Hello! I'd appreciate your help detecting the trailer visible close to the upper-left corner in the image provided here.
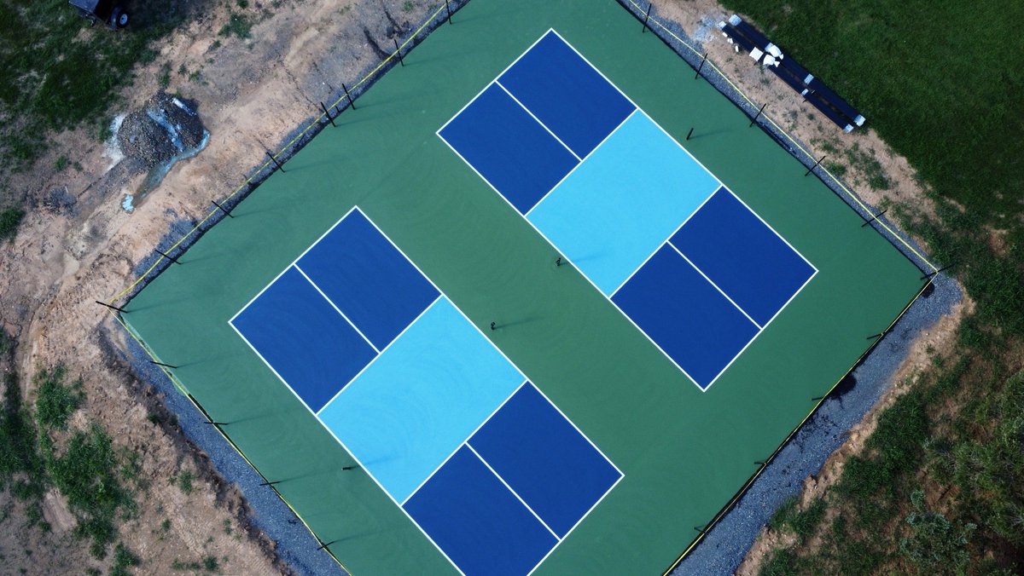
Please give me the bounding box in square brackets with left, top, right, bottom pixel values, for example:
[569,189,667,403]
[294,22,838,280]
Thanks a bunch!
[67,0,126,28]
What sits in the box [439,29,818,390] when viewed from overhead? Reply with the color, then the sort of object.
blue sports court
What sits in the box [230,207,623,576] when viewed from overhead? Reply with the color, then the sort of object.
blue sports court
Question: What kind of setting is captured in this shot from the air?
sports ground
